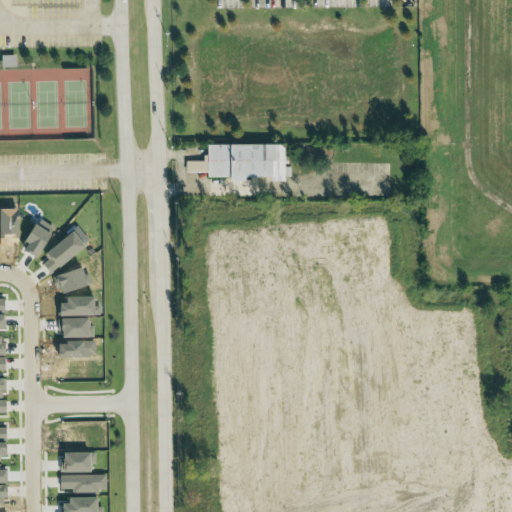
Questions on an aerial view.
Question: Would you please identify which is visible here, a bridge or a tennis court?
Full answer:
The one in the frame is a tennis court.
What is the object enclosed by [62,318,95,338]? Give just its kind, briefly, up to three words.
house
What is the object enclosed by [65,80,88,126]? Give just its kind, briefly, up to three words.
tennis court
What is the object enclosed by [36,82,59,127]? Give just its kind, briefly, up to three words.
tennis court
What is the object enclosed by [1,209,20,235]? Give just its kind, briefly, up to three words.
house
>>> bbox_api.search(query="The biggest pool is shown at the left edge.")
[26,202,44,218]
